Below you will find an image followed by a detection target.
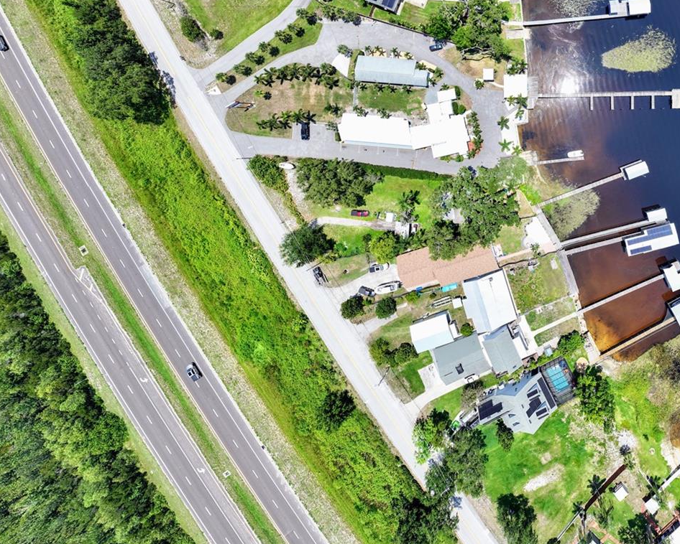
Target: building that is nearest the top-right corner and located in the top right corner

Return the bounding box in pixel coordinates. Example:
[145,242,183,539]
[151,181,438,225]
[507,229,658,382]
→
[627,0,650,16]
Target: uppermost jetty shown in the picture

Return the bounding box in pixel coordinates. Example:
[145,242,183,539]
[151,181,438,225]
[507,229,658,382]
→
[505,0,628,24]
